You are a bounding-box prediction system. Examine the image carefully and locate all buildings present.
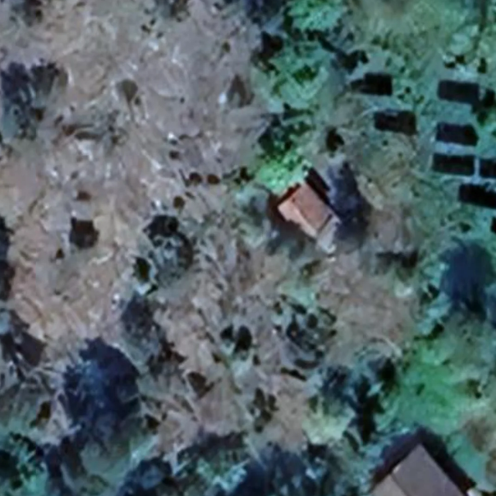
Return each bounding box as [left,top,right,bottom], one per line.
[278,183,334,237]
[370,444,464,496]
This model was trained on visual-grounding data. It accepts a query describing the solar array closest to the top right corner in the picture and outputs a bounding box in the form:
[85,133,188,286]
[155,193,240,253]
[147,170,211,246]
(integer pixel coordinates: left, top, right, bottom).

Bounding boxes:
[437,79,479,102]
